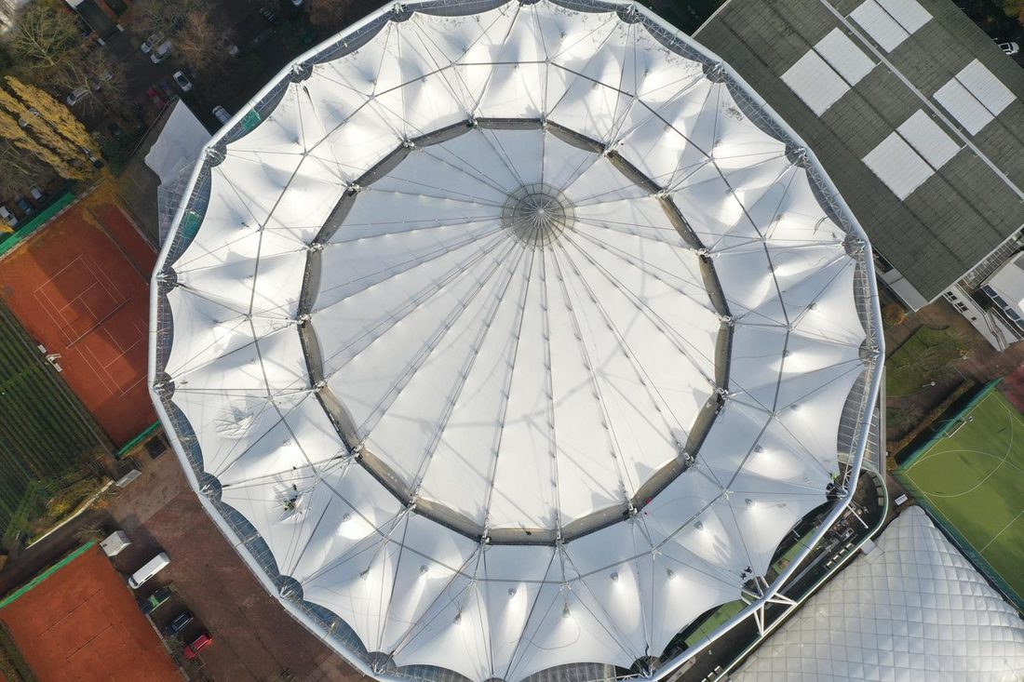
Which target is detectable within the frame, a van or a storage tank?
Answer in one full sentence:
I can see a van in this picture.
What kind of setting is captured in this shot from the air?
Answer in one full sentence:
It's a sports ground.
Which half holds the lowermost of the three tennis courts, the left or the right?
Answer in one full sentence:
The lowermost of the three tennis courts is on the left side of the image.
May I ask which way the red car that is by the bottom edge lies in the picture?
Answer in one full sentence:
The red car that is by the bottom edge runs on a diagonal in the image.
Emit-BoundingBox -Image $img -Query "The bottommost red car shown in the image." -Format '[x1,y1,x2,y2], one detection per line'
[181,633,210,660]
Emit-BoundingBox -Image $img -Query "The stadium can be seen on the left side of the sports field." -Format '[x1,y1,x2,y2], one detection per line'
[150,0,889,682]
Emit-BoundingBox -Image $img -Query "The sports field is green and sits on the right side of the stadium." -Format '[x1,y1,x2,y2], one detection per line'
[891,385,1024,602]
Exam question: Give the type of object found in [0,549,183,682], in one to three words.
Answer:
tennis court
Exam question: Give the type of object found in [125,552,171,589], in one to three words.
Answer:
van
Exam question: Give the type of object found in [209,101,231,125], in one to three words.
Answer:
vehicle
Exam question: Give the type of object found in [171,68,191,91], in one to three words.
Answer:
car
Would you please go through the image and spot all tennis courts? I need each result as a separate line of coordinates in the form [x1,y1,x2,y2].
[0,549,183,682]
[0,198,163,449]
[94,200,159,285]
